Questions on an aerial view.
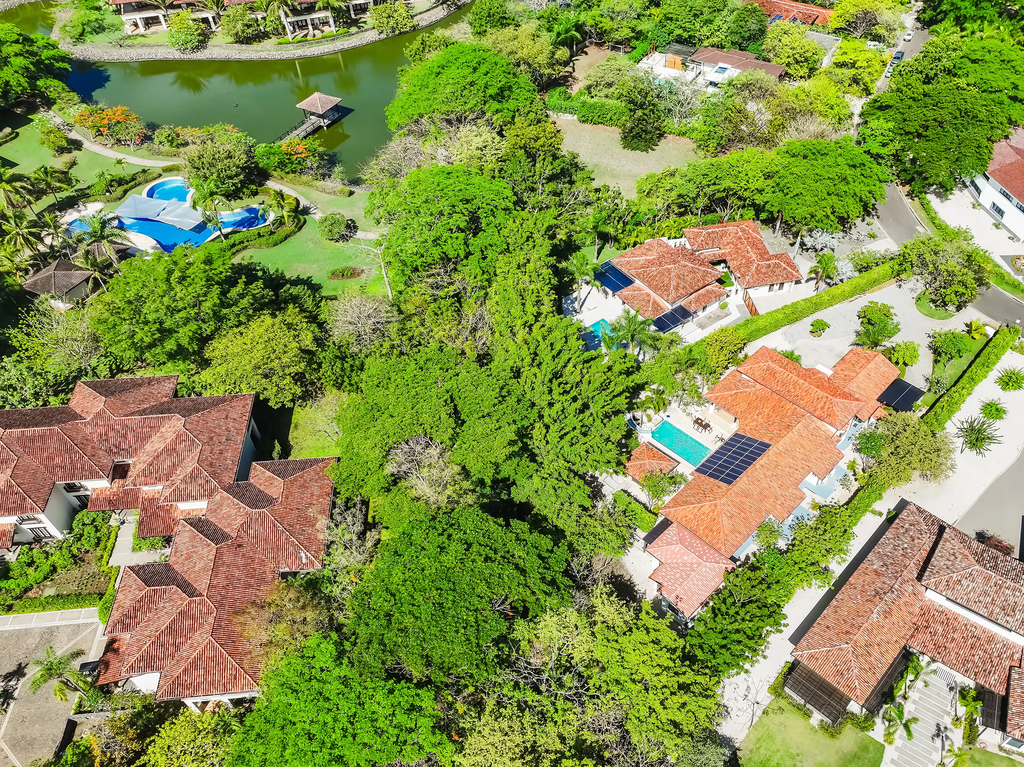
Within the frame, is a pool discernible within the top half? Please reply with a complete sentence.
Yes, looking within the top half, one can make out a pool.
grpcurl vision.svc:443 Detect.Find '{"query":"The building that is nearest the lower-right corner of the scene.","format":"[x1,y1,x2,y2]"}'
[775,500,1024,763]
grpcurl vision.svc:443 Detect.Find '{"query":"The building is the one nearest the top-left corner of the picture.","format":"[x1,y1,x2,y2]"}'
[115,0,171,34]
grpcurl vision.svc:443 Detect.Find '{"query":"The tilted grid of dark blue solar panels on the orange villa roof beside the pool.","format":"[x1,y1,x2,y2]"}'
[695,432,771,485]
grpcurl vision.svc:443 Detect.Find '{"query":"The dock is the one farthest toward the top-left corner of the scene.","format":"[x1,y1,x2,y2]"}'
[260,111,322,145]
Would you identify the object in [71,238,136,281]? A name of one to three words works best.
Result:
building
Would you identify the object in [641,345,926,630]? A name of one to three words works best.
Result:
house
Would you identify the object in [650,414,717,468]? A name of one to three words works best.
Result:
swimming pool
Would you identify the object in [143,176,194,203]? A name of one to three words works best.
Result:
swimming pool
